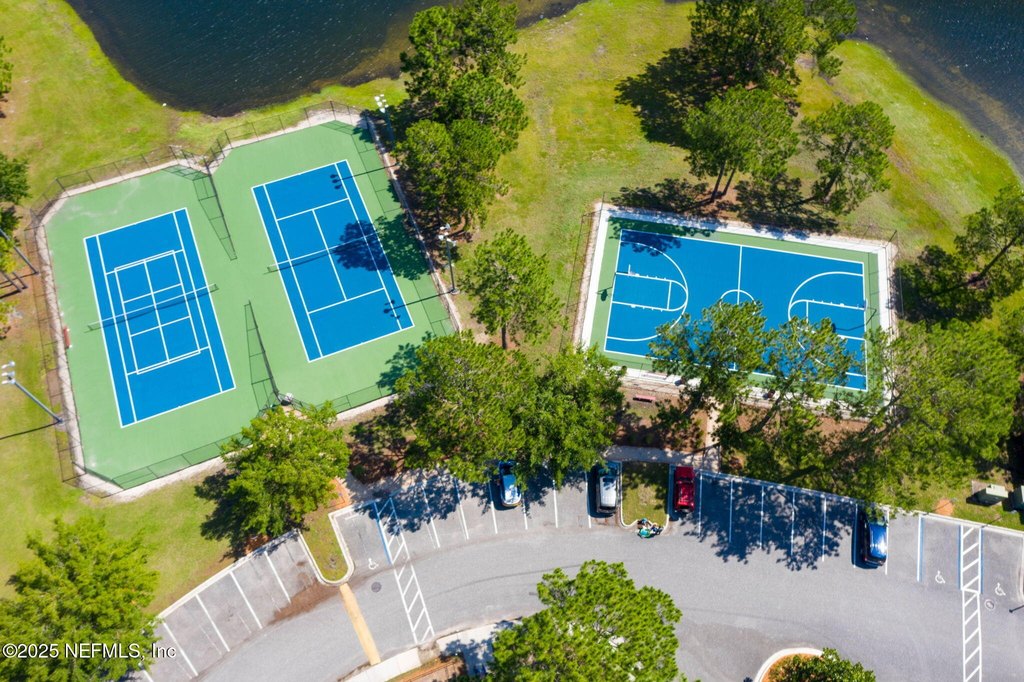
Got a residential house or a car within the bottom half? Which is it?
car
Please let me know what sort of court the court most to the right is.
basketball court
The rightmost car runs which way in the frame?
vertically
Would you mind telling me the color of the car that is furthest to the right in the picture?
blue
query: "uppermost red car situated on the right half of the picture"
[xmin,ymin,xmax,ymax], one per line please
[673,467,698,518]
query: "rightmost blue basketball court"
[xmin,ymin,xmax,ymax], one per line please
[576,209,894,421]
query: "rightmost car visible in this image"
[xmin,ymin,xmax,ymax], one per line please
[862,513,892,572]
